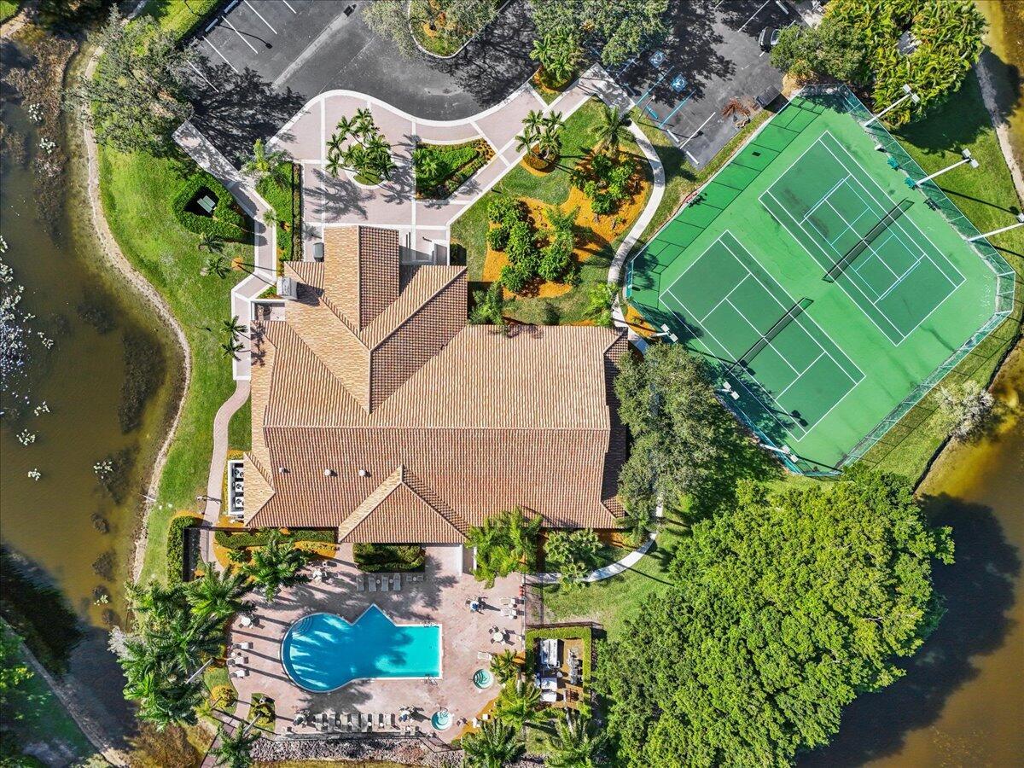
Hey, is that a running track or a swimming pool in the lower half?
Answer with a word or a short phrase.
swimming pool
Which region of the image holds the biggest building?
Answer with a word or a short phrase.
center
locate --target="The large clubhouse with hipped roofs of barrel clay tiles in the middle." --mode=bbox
[242,226,628,543]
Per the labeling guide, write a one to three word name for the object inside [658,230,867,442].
tennis court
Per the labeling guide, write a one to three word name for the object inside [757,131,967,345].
tennis court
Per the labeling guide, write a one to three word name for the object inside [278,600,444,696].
swimming pool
